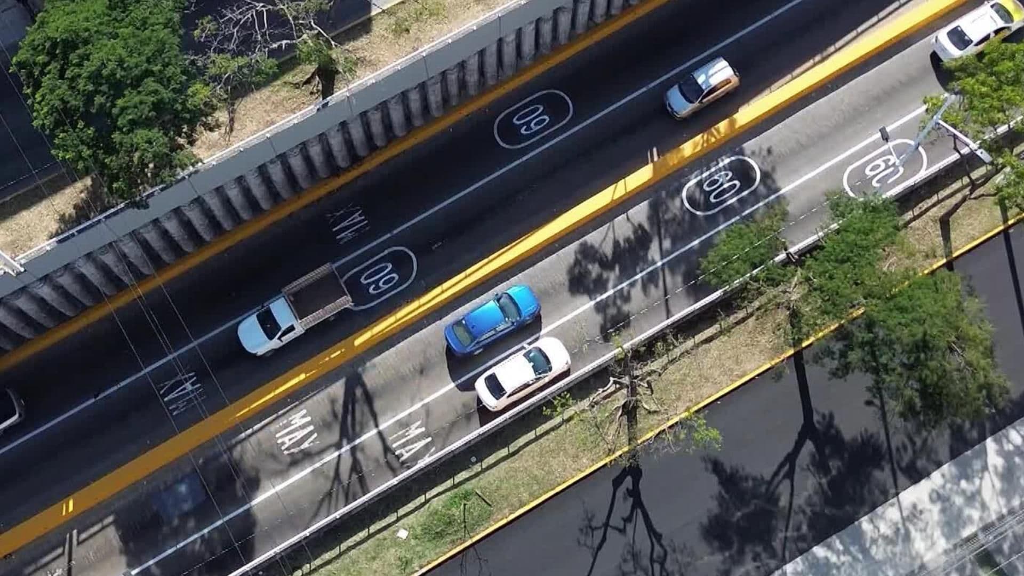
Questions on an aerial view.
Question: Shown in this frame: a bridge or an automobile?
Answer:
automobile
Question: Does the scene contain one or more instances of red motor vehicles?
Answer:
No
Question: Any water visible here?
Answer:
No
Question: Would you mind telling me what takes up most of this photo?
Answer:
paved ground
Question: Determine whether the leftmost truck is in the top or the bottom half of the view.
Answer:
bottom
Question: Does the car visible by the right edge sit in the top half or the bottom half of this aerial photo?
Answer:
top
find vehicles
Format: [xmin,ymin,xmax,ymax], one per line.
[0,385,34,435]
[445,284,544,360]
[235,264,353,357]
[661,54,744,120]
[475,335,575,412]
[926,0,1019,64]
